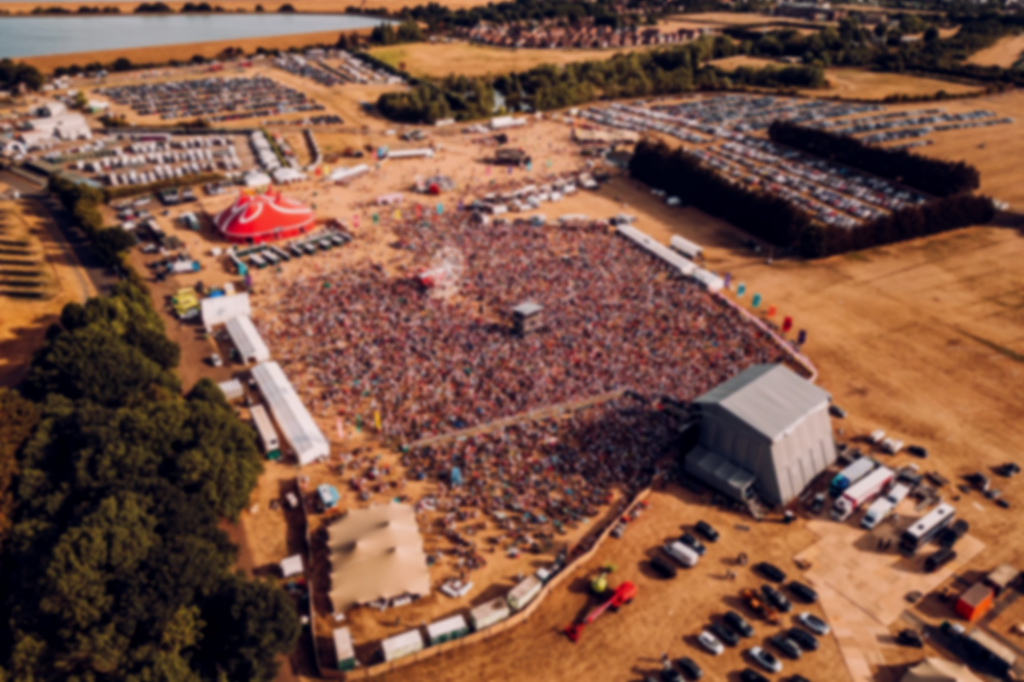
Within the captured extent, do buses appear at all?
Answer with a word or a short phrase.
Yes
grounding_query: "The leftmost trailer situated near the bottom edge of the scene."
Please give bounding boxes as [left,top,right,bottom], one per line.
[332,627,357,668]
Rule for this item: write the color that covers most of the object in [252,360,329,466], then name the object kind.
white tent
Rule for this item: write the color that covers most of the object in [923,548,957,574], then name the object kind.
black vehicle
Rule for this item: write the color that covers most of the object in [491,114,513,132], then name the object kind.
white tent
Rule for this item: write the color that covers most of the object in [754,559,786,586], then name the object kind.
black car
